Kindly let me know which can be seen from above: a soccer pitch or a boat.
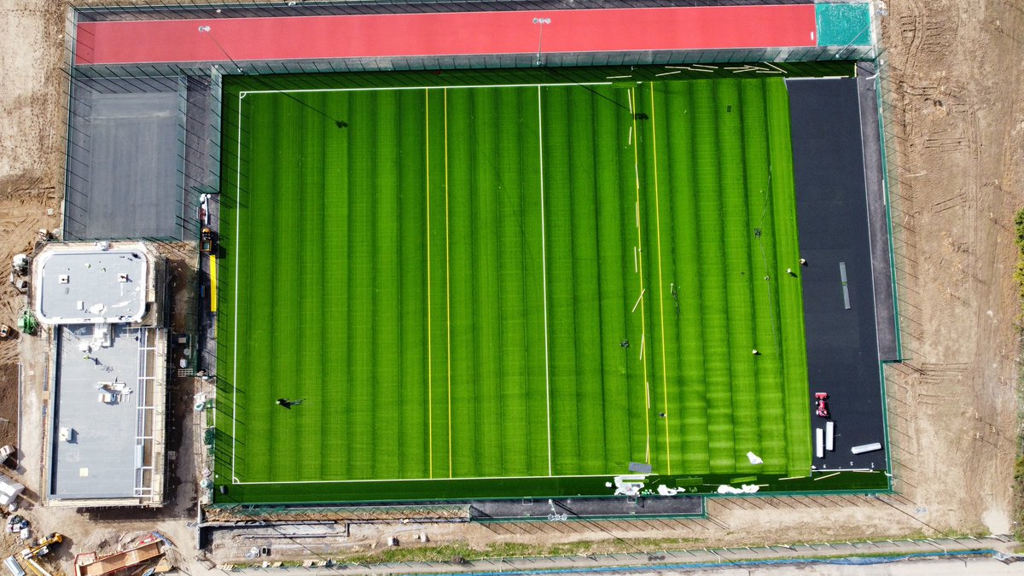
soccer pitch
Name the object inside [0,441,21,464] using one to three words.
truck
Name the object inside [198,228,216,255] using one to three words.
vehicle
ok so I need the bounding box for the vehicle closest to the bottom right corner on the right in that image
[815,390,830,419]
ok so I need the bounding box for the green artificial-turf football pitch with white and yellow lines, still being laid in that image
[211,58,892,507]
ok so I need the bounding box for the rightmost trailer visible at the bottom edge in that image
[74,536,166,576]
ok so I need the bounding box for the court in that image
[67,77,185,239]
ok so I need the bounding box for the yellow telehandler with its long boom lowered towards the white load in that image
[10,530,62,564]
